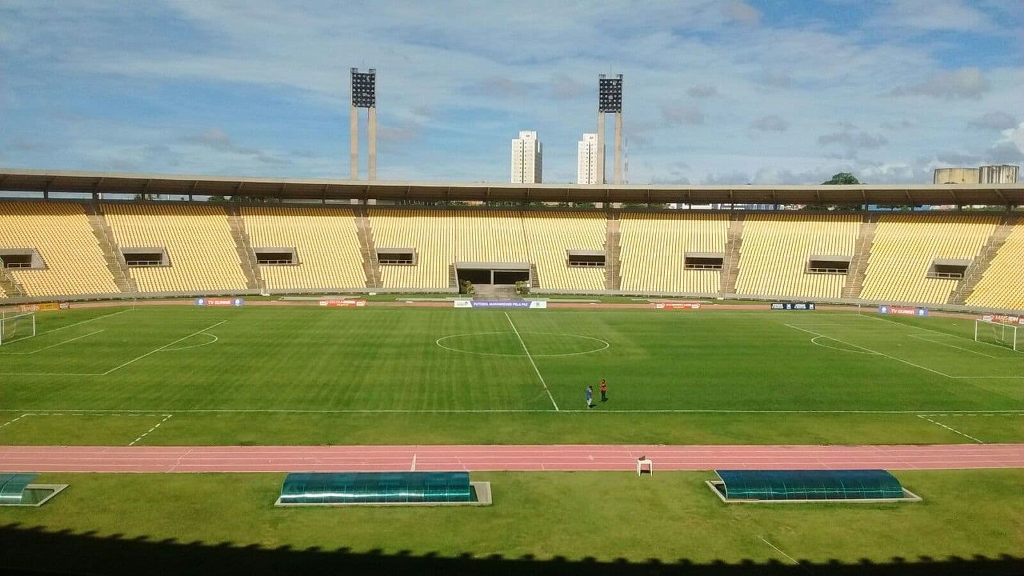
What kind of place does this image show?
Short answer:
sports ground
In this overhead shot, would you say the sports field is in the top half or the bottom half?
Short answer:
bottom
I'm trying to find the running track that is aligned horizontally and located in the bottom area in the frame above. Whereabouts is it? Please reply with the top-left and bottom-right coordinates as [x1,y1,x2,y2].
[0,301,1024,473]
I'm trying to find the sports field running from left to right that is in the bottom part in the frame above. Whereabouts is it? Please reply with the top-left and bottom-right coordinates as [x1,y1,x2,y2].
[0,306,1024,560]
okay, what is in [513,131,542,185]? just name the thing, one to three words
building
